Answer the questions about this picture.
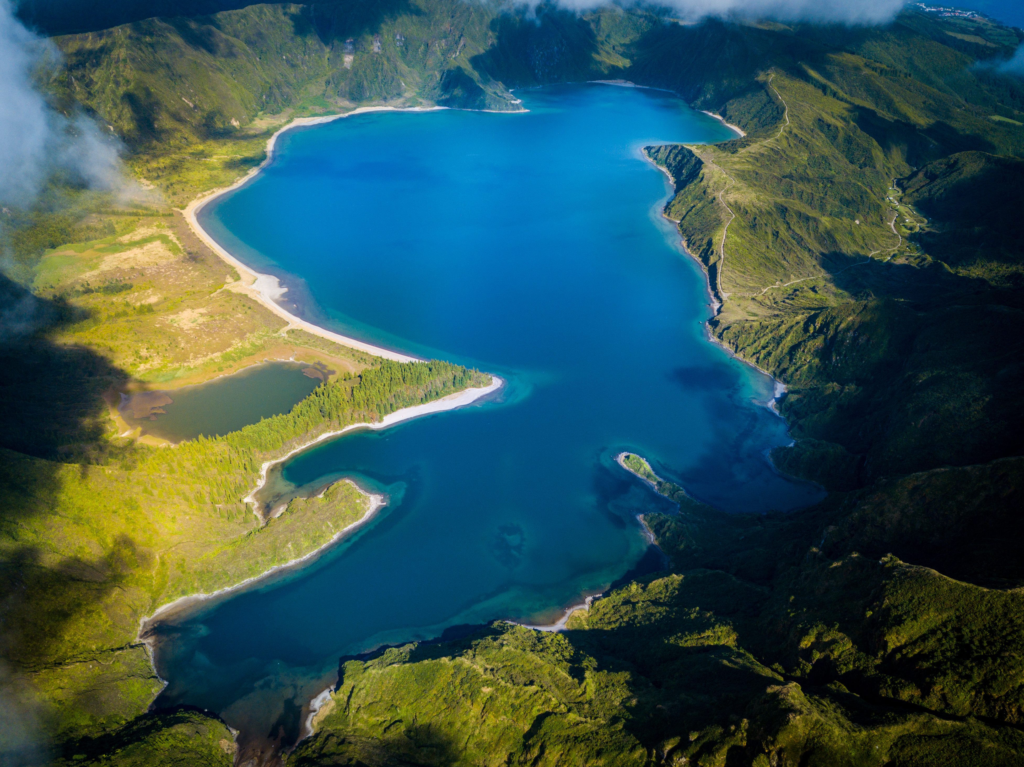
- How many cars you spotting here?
0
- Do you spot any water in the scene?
Yes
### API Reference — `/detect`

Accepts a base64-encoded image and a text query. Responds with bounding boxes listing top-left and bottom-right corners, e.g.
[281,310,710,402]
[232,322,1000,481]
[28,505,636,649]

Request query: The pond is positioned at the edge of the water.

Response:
[116,360,326,444]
